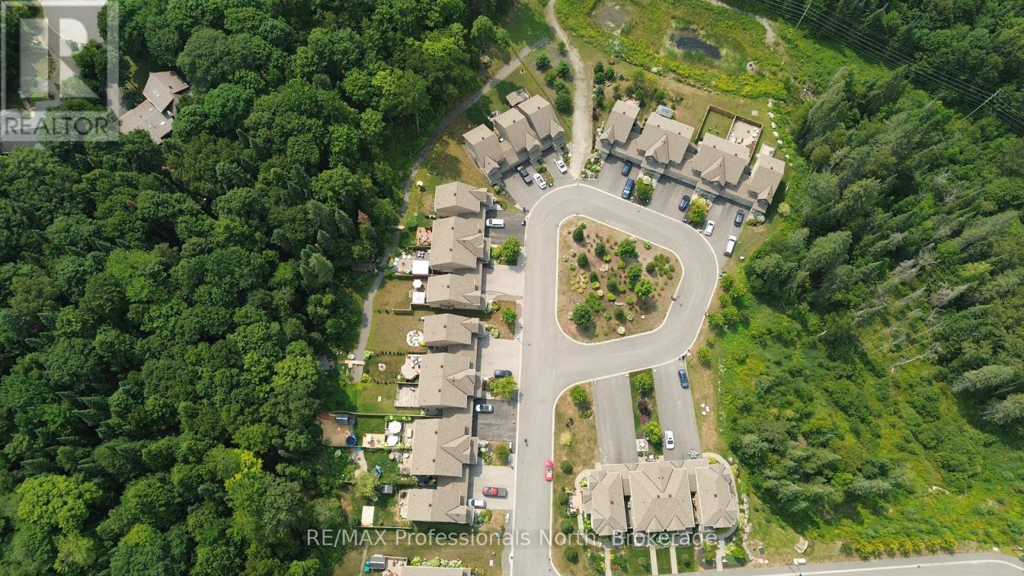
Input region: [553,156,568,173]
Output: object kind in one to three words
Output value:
car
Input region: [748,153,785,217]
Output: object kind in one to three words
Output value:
house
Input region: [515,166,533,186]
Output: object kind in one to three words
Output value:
vehicle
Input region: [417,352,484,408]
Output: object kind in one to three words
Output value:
house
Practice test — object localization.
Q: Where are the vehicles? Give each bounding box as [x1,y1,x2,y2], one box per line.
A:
[553,156,568,173]
[482,486,507,497]
[621,179,635,198]
[678,195,689,211]
[486,219,506,228]
[704,220,715,237]
[678,369,690,389]
[664,429,674,450]
[723,236,737,256]
[532,173,547,190]
[515,166,533,186]
[469,498,486,508]
[493,369,513,378]
[544,461,554,481]
[475,403,494,413]
[732,209,746,227]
